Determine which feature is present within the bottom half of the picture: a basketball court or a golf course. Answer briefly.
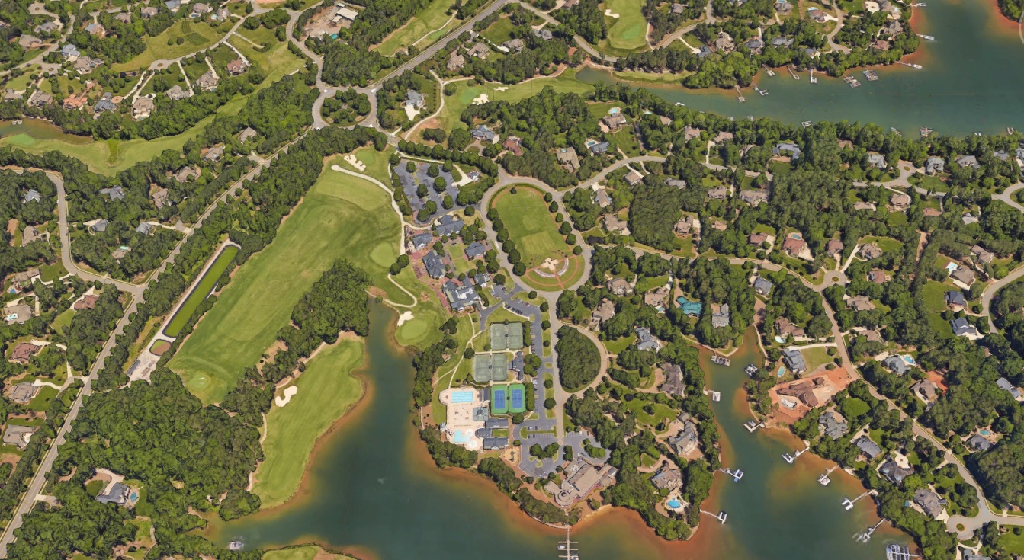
golf course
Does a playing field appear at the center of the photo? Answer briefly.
Yes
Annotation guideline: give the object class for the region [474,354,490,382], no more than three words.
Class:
tennis court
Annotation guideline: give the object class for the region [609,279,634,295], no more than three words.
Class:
house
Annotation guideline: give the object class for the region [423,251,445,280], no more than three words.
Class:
building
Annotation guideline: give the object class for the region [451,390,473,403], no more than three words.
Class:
swimming pool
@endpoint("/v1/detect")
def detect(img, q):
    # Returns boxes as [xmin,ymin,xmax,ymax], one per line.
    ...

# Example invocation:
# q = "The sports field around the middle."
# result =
[489,184,585,292]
